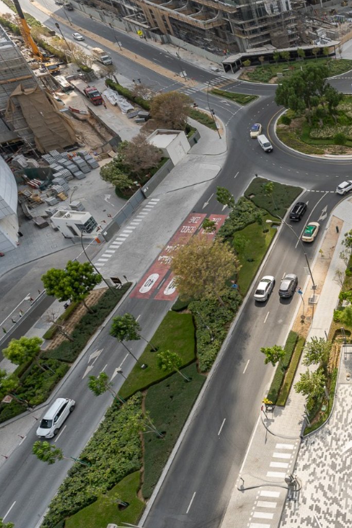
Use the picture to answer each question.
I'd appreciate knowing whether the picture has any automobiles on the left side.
Yes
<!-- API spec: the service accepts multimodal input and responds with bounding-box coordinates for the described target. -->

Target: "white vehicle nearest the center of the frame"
[253,274,275,301]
